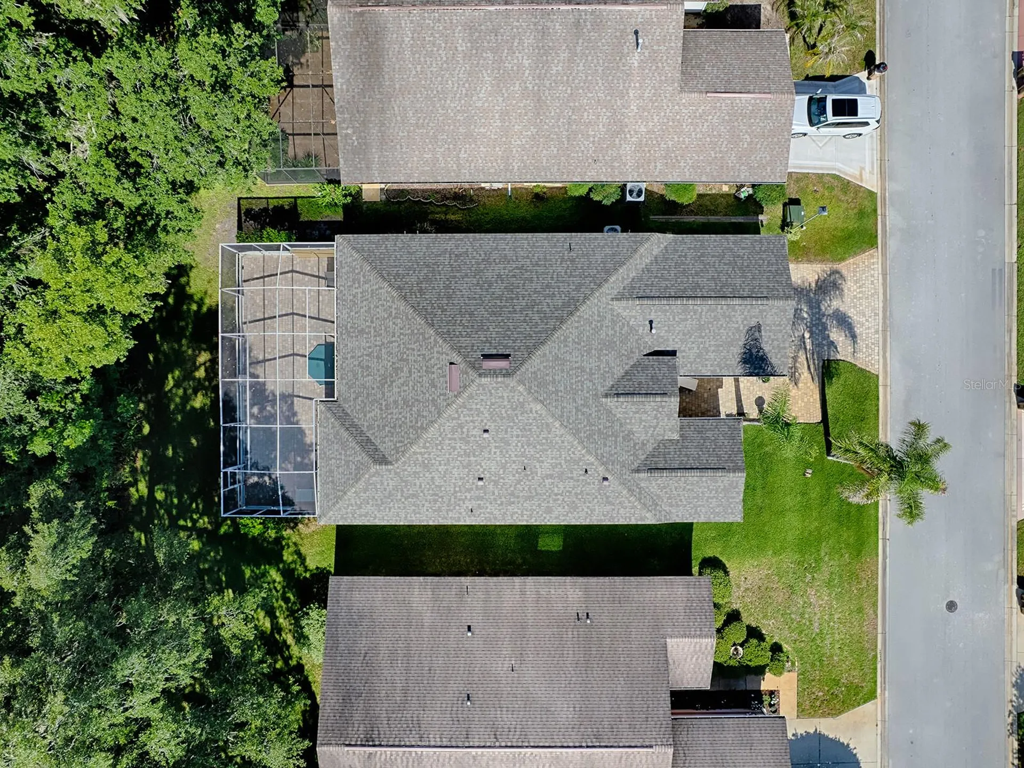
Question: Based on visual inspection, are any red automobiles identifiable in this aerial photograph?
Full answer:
No, no red automobile is visible in the view.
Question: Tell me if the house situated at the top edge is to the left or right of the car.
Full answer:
In the image, the house situated at the top edge sits on the left side of the car.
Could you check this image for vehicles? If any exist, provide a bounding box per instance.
[793,88,882,138]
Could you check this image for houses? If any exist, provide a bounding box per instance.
[316,232,796,526]
[317,575,791,768]
[326,0,797,199]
